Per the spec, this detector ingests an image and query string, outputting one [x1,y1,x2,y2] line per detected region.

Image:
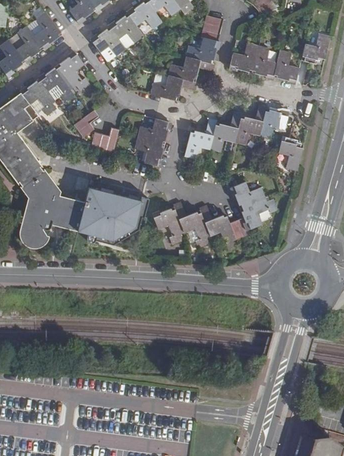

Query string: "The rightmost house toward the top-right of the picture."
[302,34,330,64]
